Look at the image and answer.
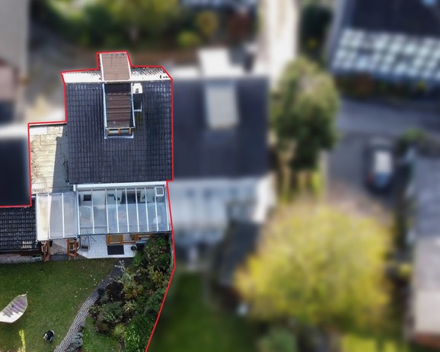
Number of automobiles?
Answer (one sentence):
I count 1 automobile.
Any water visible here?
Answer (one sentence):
No, the picture contains no water.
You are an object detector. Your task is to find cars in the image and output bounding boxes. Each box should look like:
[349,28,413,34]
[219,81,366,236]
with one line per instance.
[363,145,397,194]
